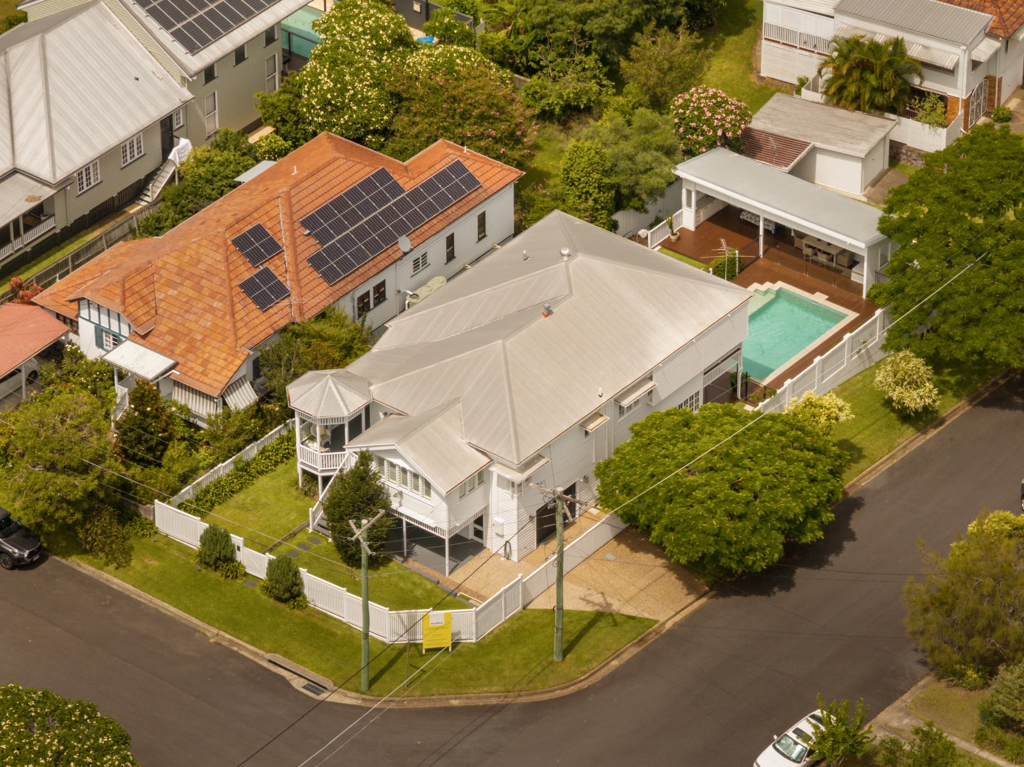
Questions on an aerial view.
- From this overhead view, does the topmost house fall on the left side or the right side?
right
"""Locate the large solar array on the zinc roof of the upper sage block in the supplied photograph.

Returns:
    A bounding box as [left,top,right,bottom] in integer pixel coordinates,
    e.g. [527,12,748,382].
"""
[128,0,265,48]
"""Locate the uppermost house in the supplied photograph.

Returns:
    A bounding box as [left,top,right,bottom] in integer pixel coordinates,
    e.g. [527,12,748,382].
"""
[752,0,1024,132]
